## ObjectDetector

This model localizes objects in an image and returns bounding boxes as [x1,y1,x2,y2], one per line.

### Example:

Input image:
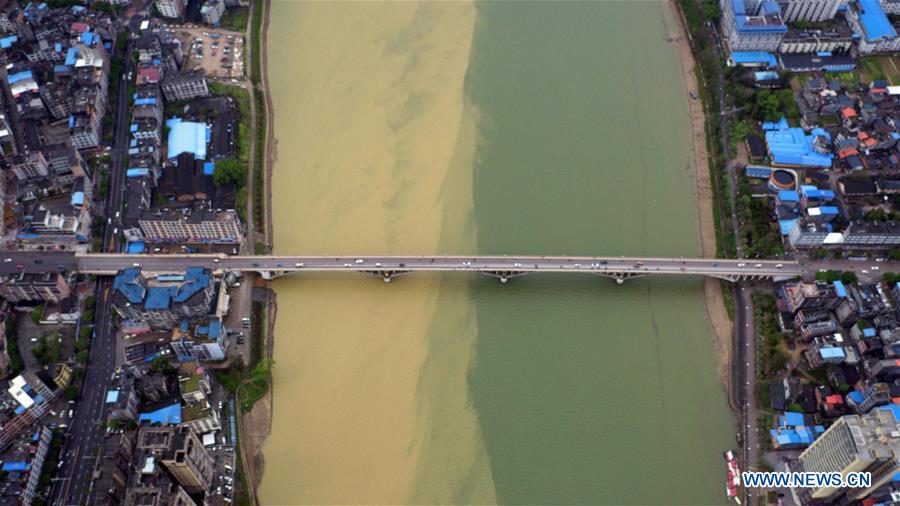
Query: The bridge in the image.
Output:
[74,252,801,286]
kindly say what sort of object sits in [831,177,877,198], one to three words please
building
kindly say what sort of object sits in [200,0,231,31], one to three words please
building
